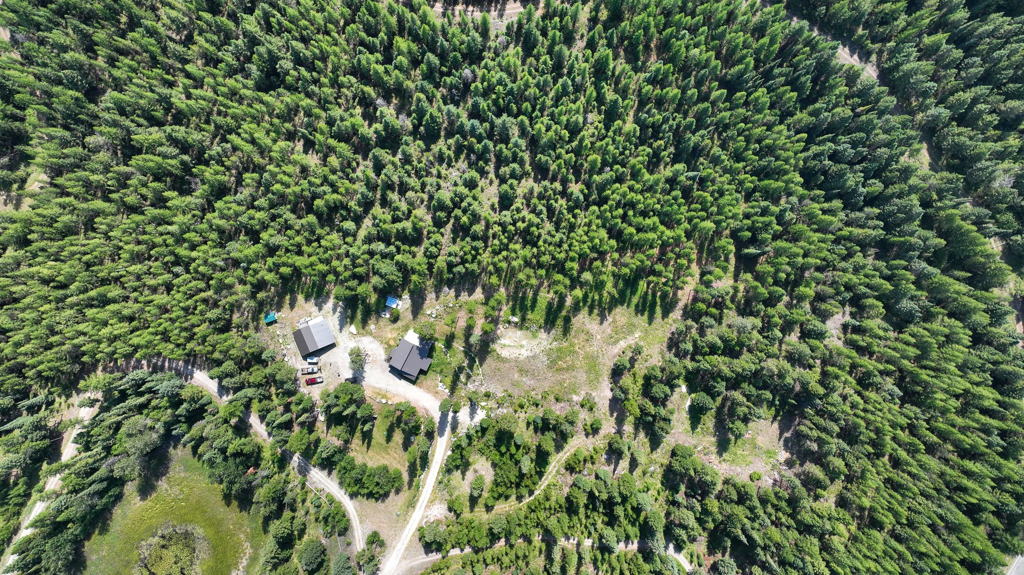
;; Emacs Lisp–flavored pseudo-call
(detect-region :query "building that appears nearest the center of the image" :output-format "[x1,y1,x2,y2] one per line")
[390,330,433,381]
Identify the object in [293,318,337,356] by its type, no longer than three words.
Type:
building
